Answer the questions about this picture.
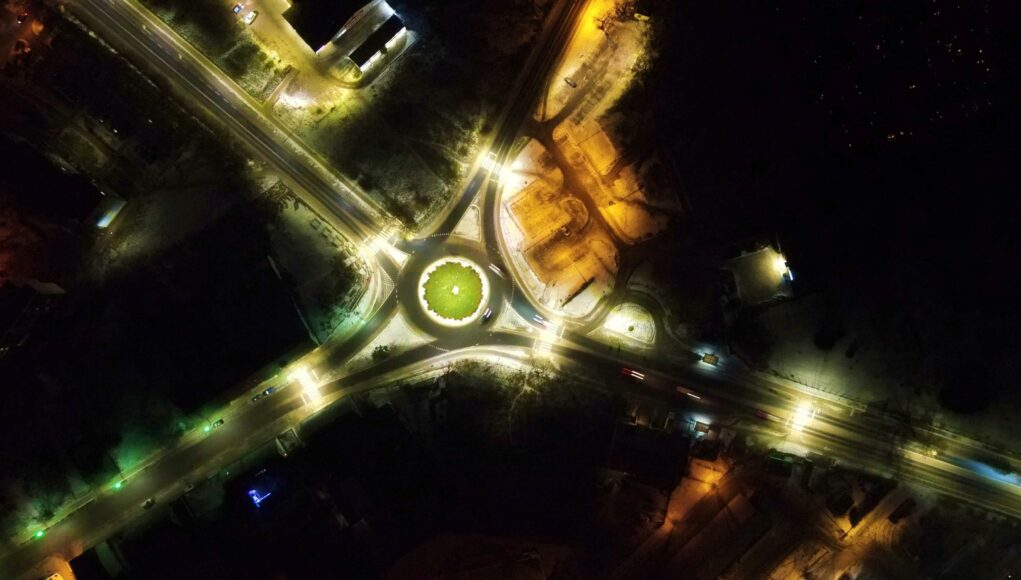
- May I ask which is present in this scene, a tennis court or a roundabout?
roundabout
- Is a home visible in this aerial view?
Yes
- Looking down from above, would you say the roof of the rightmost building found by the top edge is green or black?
black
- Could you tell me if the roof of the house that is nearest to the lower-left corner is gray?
No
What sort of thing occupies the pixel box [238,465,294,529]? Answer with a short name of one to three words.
house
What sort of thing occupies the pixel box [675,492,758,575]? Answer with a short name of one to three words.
house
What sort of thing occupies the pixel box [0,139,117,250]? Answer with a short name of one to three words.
warehouse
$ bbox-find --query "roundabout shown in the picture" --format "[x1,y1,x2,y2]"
[301,164,559,404]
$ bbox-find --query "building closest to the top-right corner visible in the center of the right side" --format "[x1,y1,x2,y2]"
[785,252,838,302]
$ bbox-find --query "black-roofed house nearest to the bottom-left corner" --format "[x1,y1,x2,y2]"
[68,537,131,580]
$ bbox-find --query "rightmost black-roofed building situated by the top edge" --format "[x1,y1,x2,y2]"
[281,0,382,57]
